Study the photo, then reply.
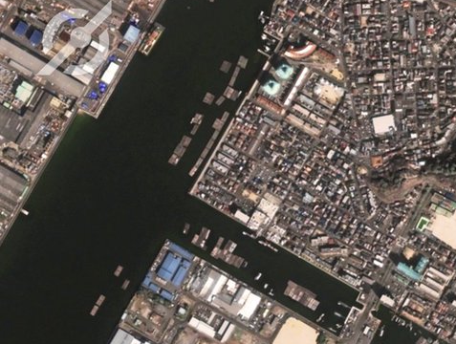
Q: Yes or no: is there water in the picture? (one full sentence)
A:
Yes, there's water in this view.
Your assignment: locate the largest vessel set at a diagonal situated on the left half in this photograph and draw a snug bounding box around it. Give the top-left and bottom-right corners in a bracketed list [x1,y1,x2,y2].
[141,26,161,55]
